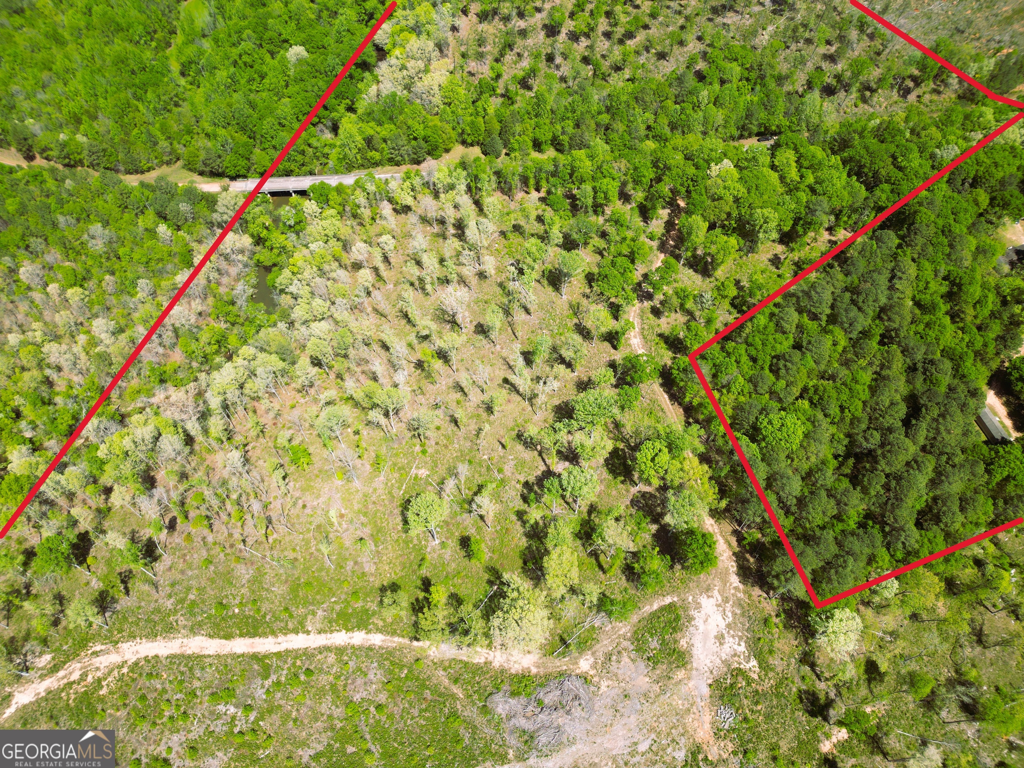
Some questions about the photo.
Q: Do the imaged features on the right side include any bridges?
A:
No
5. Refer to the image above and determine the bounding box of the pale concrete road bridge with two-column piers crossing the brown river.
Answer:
[229,170,352,200]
